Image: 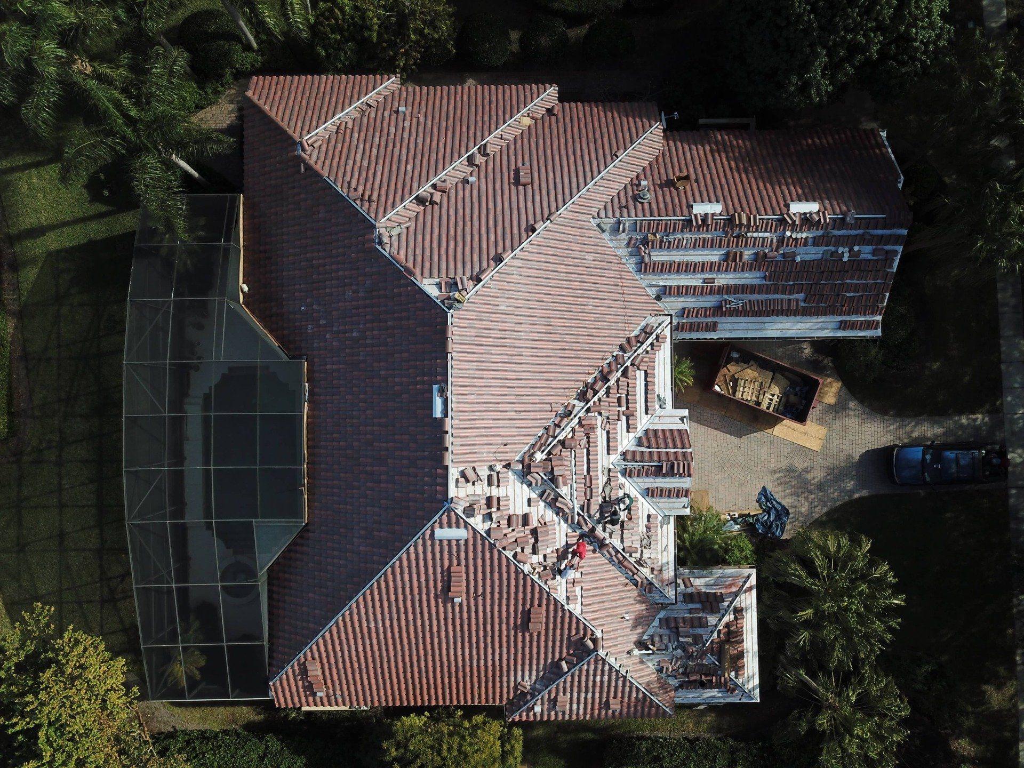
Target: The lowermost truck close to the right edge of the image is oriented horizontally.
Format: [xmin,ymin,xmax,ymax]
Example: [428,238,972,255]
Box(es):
[884,439,1010,490]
